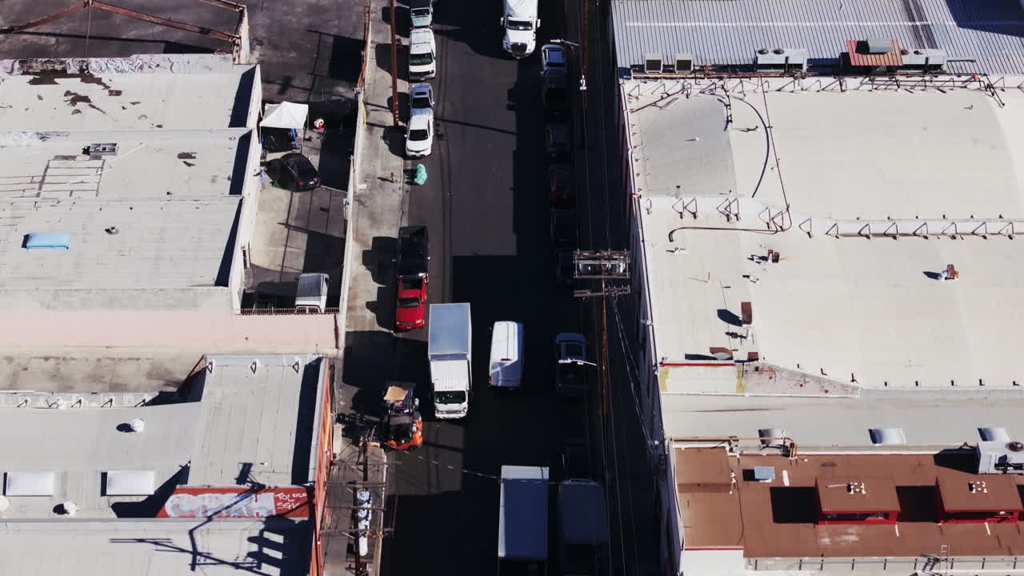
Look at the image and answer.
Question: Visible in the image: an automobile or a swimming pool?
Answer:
automobile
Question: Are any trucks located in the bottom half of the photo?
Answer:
Yes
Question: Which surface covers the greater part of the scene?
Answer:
buildings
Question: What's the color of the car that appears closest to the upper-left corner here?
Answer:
black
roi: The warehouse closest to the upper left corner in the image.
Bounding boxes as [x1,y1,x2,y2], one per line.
[0,52,270,355]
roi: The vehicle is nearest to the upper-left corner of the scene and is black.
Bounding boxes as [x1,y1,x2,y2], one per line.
[271,154,318,194]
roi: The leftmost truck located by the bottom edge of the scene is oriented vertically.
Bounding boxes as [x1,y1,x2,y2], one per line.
[497,465,551,576]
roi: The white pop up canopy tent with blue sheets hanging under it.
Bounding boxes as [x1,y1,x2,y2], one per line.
[263,104,308,154]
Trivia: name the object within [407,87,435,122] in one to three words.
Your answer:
car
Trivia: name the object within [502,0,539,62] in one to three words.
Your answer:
truck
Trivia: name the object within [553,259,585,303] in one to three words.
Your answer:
car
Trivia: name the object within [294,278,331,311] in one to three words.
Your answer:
van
